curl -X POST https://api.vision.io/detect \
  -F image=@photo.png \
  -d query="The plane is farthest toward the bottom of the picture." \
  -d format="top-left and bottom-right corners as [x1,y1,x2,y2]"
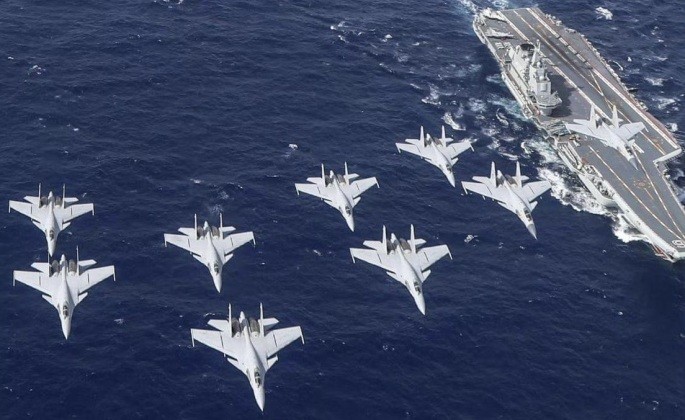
[190,300,304,411]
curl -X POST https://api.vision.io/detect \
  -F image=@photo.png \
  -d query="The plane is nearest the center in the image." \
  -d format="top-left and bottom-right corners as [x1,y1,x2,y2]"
[295,160,379,231]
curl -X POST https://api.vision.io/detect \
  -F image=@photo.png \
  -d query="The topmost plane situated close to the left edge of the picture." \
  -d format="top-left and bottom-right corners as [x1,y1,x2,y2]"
[8,182,94,255]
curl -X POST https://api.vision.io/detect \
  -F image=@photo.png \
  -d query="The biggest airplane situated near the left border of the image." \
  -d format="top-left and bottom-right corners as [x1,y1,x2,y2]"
[13,245,115,339]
